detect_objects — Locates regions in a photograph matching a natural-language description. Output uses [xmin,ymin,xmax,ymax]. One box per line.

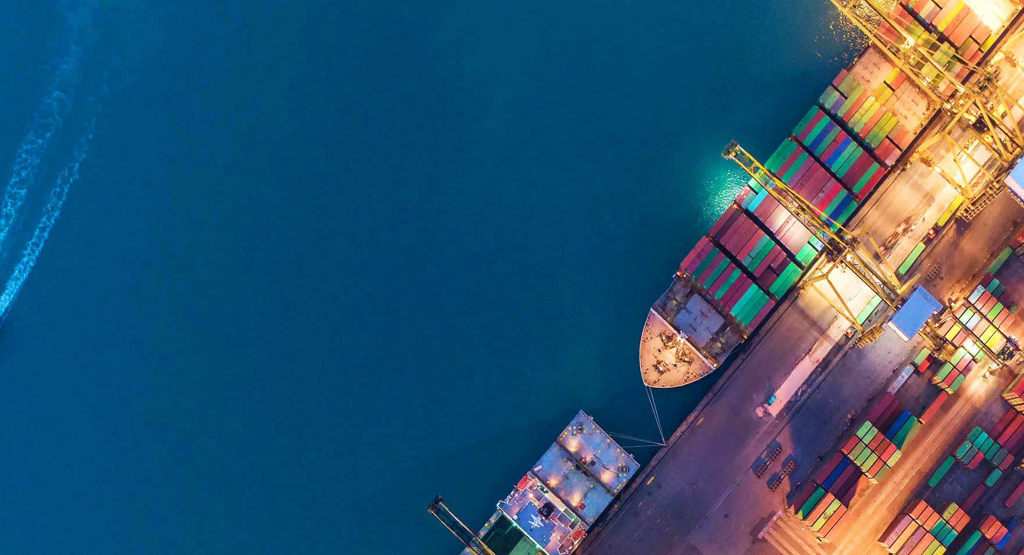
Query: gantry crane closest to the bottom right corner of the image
[939,297,1023,373]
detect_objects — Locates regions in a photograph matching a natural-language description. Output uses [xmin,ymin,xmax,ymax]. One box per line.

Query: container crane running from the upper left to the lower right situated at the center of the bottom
[424,494,500,555]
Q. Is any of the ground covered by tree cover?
No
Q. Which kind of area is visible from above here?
port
